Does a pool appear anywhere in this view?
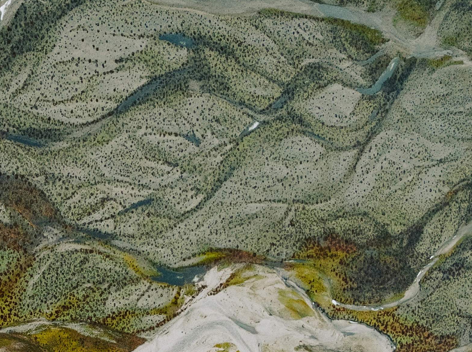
Yes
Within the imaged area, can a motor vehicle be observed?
No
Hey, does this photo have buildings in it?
No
